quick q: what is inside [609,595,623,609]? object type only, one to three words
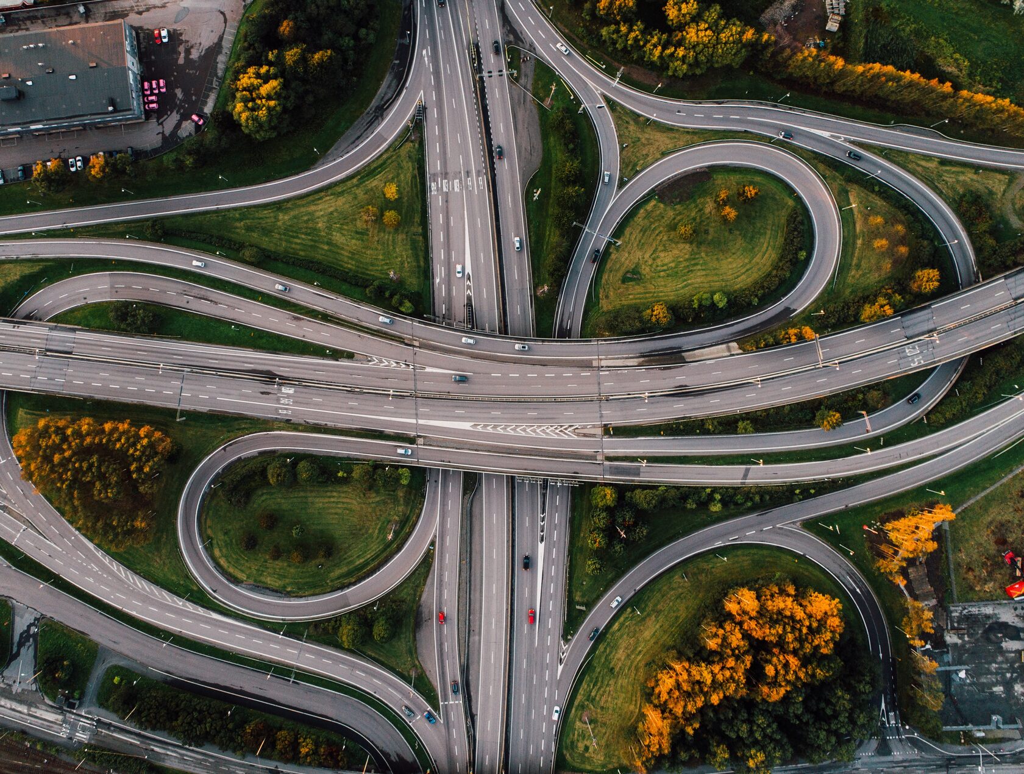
vehicle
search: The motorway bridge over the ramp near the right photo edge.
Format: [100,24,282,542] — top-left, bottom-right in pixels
[931,268,1015,369]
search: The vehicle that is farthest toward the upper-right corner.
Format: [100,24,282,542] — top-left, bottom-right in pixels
[825,12,841,35]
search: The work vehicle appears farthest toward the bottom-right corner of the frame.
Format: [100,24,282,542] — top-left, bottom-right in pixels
[1001,551,1023,575]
